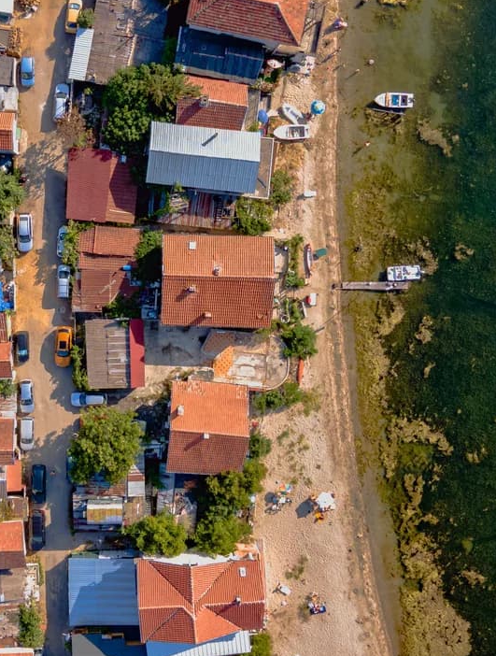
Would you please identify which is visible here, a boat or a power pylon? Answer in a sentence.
It is a boat that can be seen here.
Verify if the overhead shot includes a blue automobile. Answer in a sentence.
Yes, the image includes a blue automobile.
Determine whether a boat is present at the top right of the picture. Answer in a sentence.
Yes, the scene does show a boat at the top right of the picture.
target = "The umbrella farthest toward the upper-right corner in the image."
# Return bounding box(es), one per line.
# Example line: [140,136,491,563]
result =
[308,100,324,116]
